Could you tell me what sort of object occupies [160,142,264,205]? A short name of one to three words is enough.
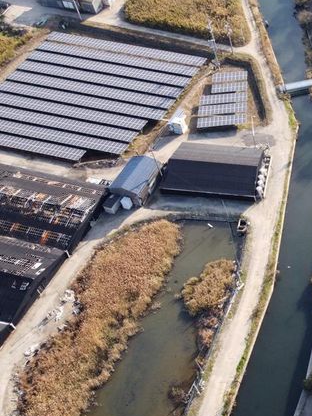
shed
